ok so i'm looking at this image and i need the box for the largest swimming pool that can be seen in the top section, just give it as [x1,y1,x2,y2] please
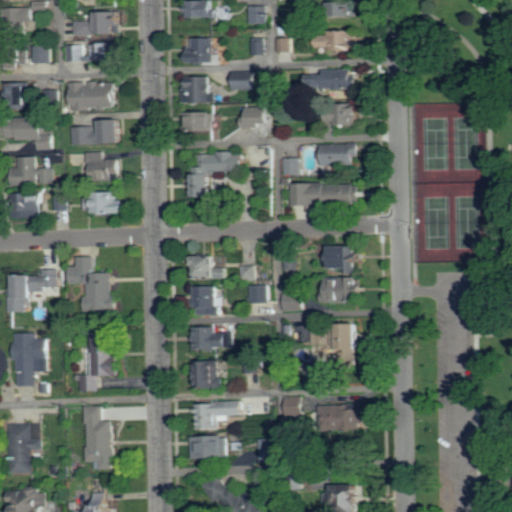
[303,148,316,172]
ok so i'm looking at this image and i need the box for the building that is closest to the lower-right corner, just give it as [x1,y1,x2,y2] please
[322,484,360,512]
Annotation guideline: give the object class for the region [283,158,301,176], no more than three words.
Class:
building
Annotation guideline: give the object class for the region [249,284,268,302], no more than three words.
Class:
building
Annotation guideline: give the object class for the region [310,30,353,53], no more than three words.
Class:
house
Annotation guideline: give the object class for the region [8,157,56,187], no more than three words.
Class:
house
